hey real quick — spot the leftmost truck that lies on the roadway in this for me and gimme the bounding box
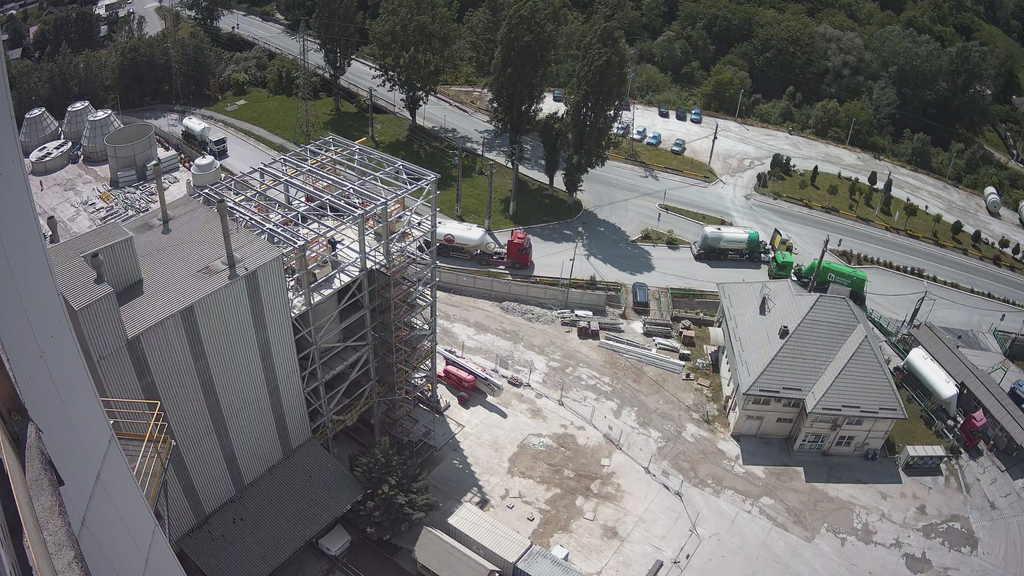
[182,122,220,157]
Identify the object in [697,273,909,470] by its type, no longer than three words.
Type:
house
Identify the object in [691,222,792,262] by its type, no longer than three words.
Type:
truck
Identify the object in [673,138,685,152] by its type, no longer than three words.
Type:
vehicle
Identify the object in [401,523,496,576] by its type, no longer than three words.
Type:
shed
